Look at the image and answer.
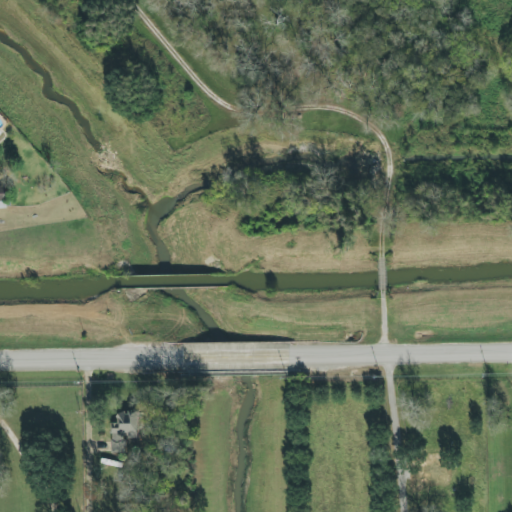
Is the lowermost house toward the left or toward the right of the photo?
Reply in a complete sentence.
You can find the lowermost house on the left side of the picture.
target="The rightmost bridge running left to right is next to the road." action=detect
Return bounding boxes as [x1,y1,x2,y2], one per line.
[180,342,292,372]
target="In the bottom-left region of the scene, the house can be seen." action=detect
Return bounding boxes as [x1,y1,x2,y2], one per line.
[110,411,139,454]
